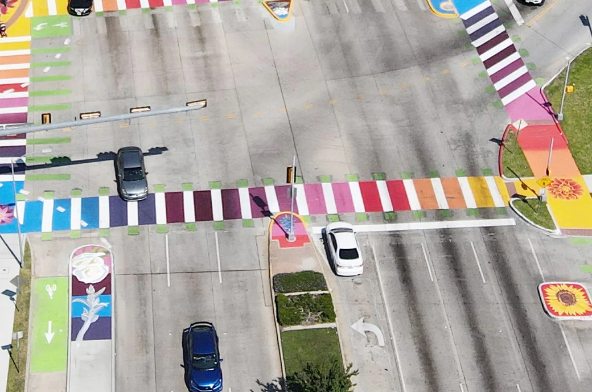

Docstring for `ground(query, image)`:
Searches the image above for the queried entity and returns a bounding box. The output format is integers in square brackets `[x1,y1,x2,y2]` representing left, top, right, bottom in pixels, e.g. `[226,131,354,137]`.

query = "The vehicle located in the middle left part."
[116,142,153,196]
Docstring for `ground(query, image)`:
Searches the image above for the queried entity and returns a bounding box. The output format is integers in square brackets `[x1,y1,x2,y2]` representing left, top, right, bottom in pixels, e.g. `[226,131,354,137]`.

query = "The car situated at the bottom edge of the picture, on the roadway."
[183,318,225,390]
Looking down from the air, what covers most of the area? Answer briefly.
paved ground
